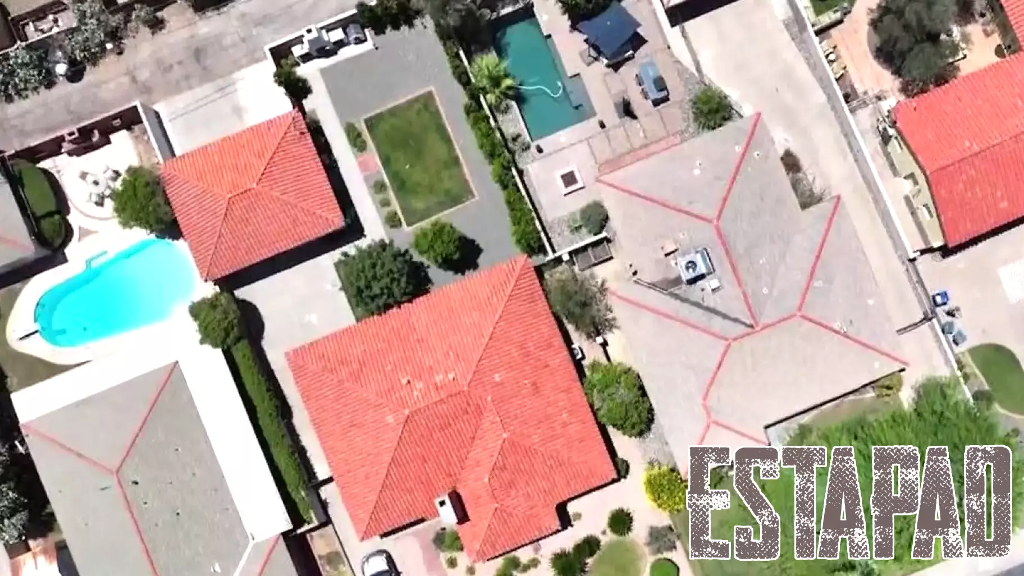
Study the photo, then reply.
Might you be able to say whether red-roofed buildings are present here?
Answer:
Yes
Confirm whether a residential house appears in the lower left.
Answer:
Yes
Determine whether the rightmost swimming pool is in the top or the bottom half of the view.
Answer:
top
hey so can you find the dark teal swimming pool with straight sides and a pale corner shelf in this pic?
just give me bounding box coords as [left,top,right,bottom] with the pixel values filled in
[491,9,599,143]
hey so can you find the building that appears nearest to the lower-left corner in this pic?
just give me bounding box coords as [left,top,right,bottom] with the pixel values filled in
[8,323,304,576]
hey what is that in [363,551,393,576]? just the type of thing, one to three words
car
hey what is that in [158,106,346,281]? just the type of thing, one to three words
building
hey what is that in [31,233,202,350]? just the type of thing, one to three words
swimming pool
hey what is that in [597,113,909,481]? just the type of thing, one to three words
house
